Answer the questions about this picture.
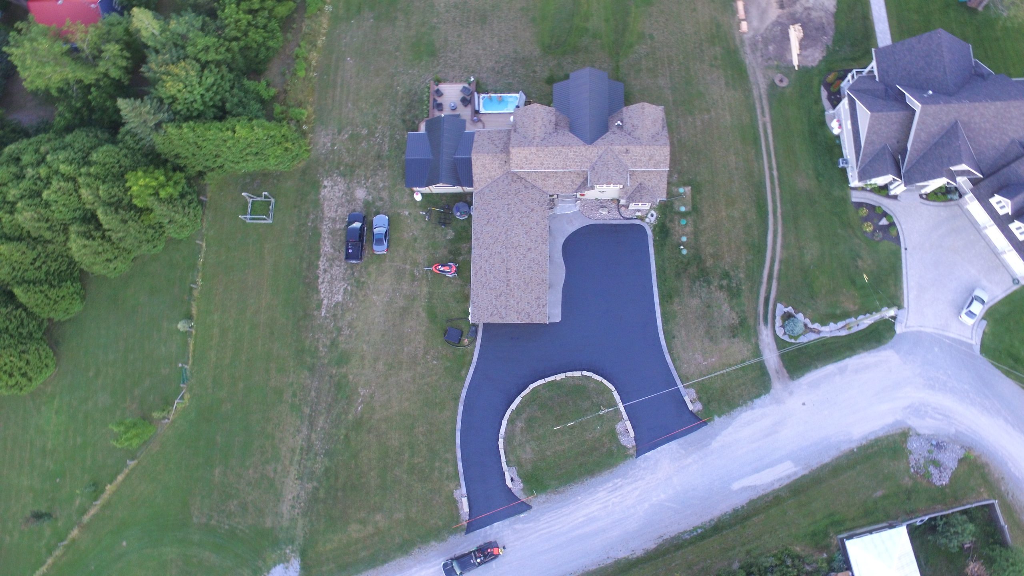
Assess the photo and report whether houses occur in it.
Yes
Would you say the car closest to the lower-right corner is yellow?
No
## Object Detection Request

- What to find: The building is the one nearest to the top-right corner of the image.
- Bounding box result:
[834,29,1024,278]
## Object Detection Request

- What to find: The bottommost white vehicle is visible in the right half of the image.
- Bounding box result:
[954,285,991,331]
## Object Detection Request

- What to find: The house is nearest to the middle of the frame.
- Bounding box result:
[469,67,670,324]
